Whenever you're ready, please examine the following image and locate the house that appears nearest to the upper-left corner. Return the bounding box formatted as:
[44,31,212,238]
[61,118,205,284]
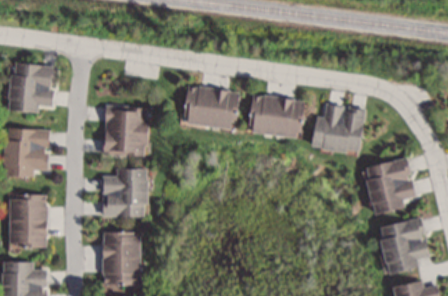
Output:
[8,62,53,112]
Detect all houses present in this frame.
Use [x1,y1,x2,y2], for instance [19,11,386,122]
[105,107,149,156]
[2,262,47,296]
[8,194,47,256]
[103,168,150,218]
[103,232,141,292]
[8,62,53,112]
[250,94,305,141]
[380,219,430,274]
[5,128,50,178]
[312,102,367,158]
[180,84,241,132]
[363,158,415,215]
